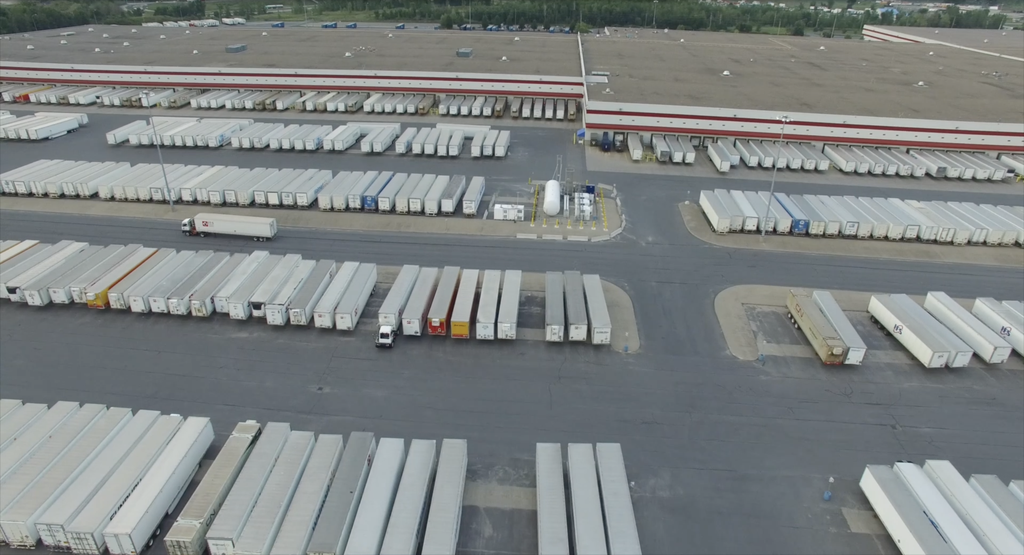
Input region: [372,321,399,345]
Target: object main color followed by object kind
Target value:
white truck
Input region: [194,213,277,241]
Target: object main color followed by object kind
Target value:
white trailer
